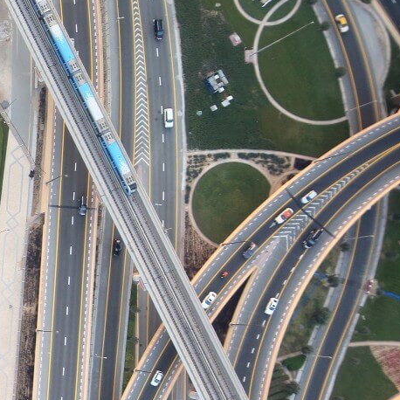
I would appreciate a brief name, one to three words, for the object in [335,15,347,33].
vehicle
